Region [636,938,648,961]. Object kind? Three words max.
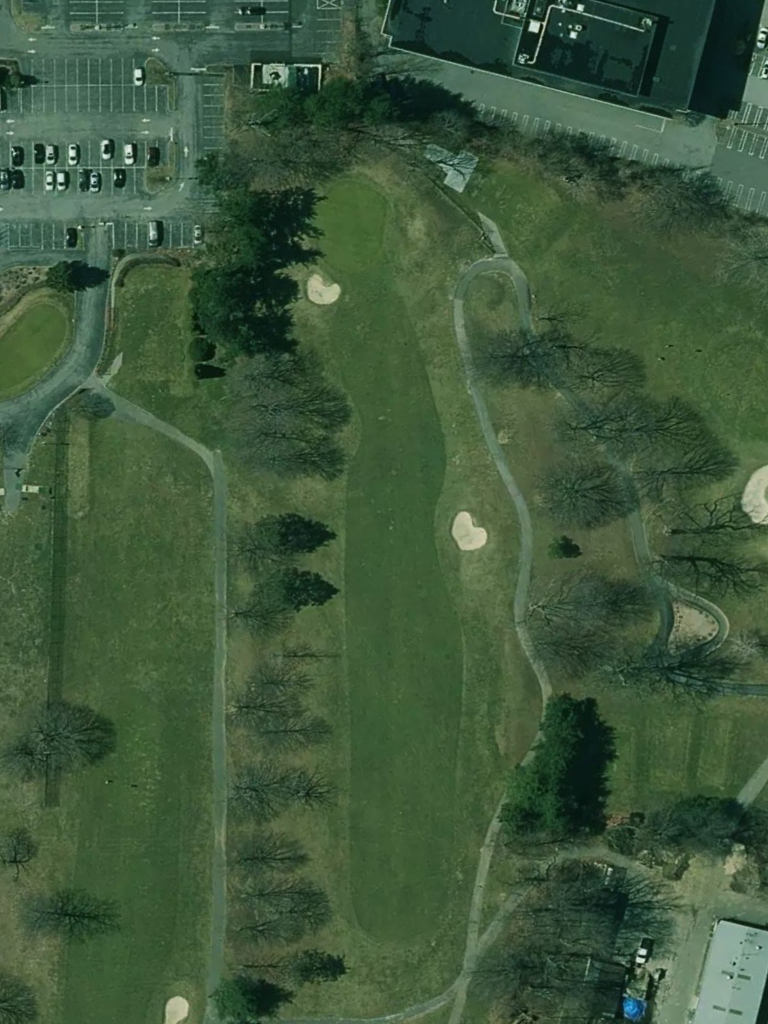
vehicle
